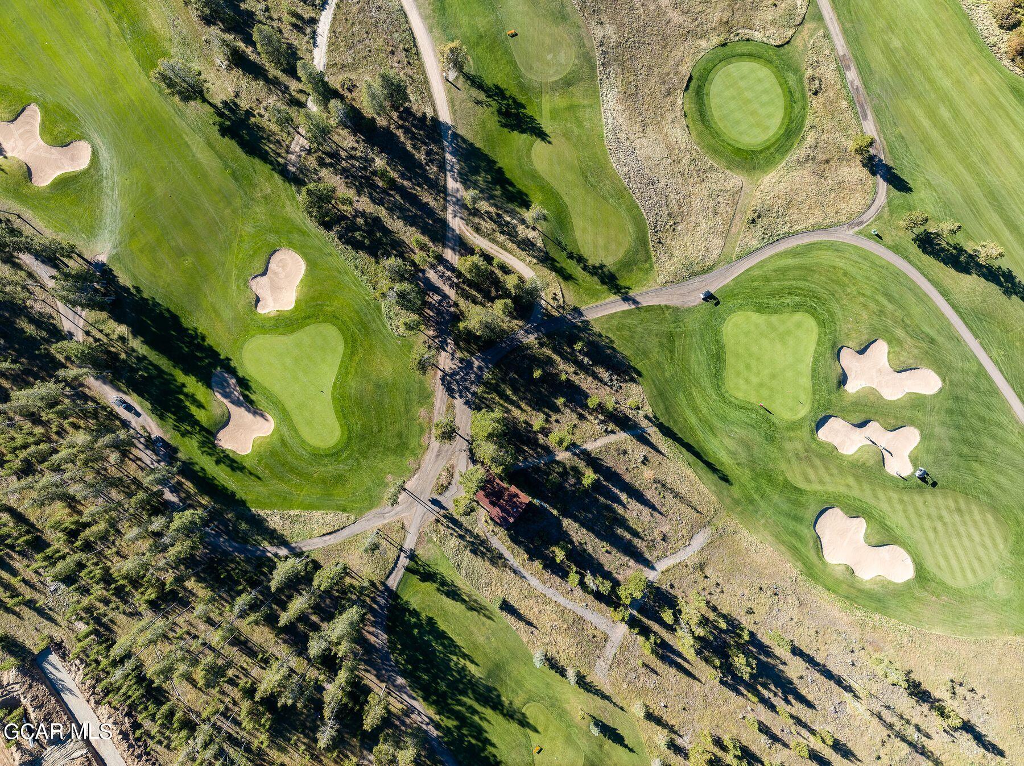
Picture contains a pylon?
No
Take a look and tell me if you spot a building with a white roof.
No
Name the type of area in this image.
golf course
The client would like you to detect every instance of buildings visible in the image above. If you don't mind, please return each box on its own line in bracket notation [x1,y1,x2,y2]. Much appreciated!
[472,472,531,525]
